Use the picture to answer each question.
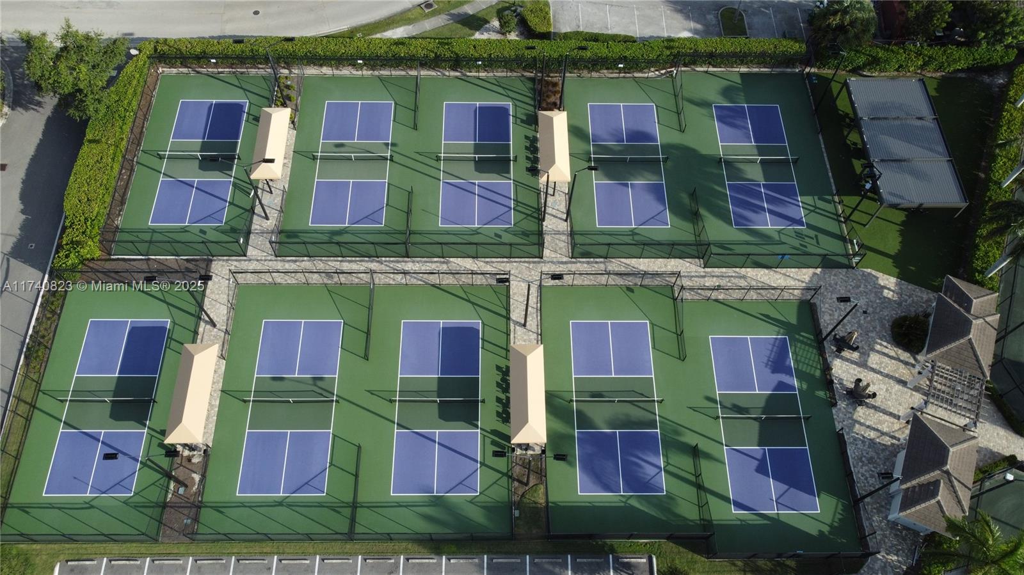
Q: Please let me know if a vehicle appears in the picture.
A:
No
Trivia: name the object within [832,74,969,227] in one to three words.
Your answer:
building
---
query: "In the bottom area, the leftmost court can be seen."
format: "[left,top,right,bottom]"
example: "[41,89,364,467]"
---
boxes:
[0,285,208,541]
